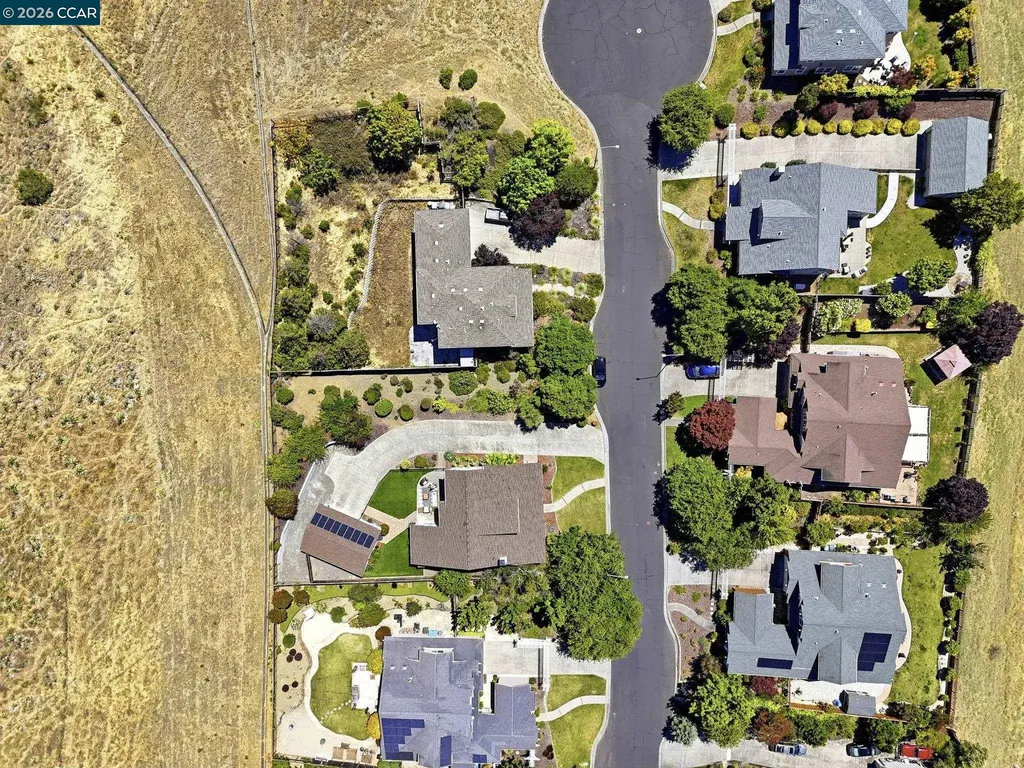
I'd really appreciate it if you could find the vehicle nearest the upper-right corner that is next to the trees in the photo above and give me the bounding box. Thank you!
[688,363,720,380]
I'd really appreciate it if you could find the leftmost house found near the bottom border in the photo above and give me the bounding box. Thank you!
[379,634,537,768]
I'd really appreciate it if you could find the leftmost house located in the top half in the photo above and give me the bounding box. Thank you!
[413,208,534,347]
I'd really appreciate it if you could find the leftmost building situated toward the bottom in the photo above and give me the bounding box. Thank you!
[300,503,381,576]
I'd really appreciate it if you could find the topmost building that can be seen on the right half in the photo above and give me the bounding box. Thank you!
[770,0,908,76]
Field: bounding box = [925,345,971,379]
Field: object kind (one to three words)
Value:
gazebo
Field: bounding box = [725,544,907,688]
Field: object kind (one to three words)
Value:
house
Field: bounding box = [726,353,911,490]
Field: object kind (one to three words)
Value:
house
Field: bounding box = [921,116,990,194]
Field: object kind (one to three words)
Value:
building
